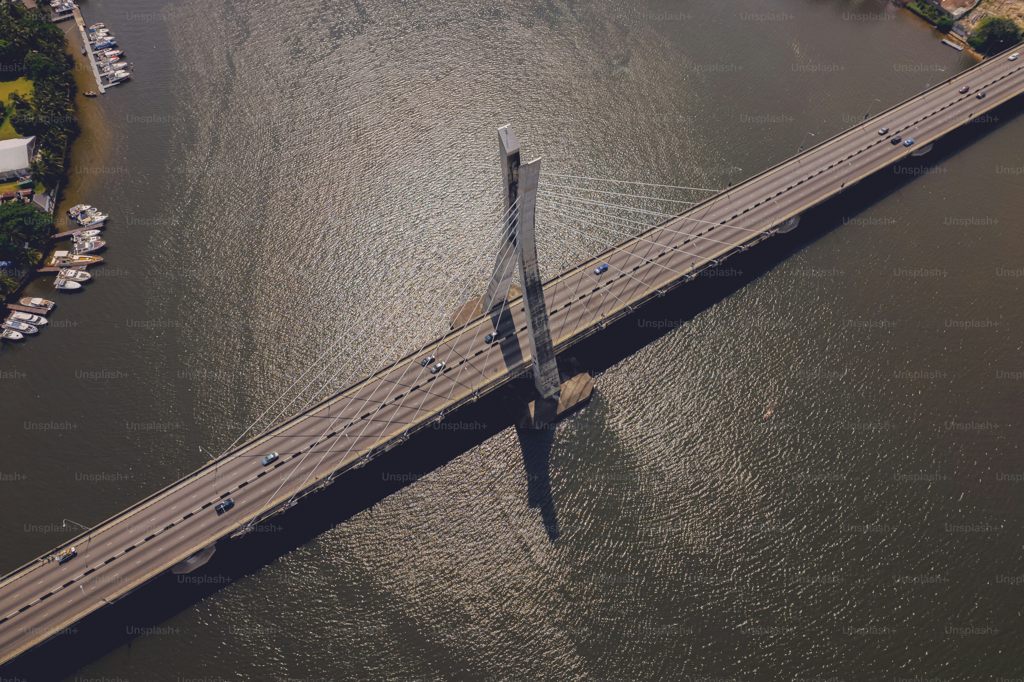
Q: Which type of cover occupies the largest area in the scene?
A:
water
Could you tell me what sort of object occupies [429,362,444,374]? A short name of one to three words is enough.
vehicle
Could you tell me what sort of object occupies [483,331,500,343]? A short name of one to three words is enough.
vehicle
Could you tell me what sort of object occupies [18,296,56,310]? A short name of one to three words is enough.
boat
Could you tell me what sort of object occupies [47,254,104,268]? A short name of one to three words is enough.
boat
